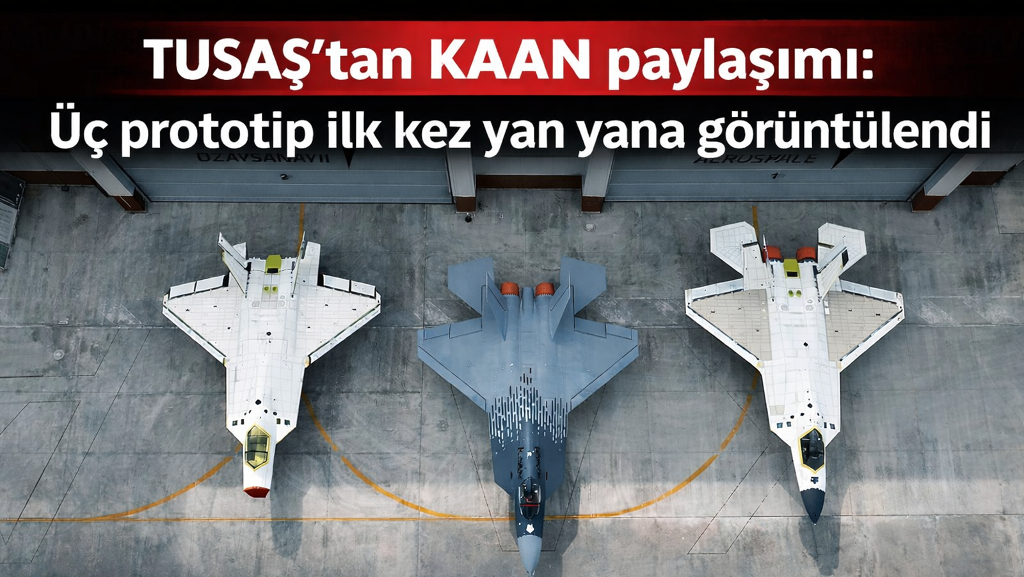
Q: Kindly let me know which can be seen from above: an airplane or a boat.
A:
airplane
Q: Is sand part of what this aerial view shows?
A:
No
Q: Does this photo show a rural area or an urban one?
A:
urban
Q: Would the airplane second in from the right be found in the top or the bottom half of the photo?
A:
bottom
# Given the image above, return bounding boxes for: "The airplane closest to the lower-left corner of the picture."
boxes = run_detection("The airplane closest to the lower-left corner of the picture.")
[160,229,381,498]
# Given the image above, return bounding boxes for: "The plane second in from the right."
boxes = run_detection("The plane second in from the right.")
[417,257,640,577]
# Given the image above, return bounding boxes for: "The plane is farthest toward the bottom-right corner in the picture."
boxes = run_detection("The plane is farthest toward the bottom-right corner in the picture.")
[686,221,907,524]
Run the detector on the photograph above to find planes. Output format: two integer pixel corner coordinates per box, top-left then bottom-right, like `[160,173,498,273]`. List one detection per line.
[686,221,907,524]
[160,229,381,498]
[417,257,640,577]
